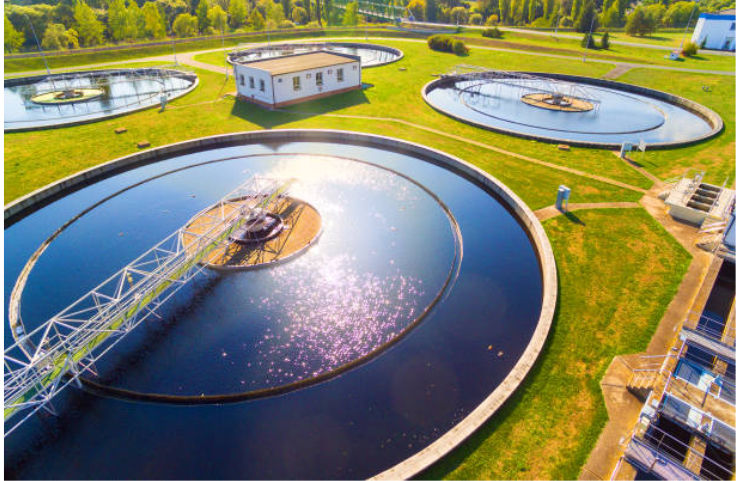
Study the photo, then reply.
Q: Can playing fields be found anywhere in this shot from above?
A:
No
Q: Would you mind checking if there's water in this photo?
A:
Yes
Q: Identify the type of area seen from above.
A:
industrial area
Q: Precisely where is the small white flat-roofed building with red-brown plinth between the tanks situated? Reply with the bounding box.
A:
[234,51,361,107]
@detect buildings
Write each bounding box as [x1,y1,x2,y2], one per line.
[690,7,740,48]
[234,51,361,107]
